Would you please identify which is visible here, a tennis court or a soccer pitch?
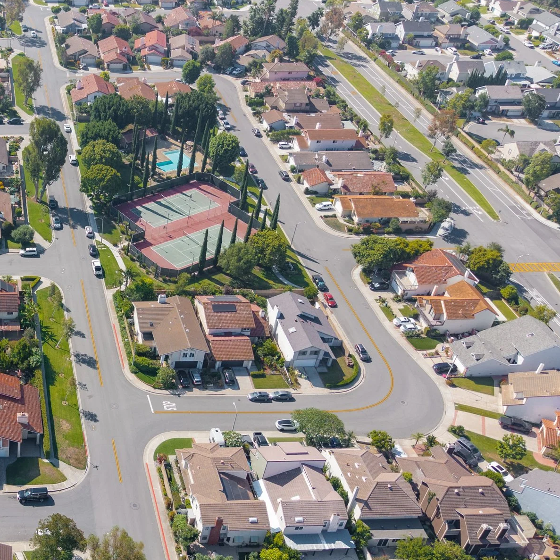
tennis court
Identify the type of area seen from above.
residential area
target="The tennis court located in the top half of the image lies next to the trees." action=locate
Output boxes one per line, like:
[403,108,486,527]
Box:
[124,180,257,266]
